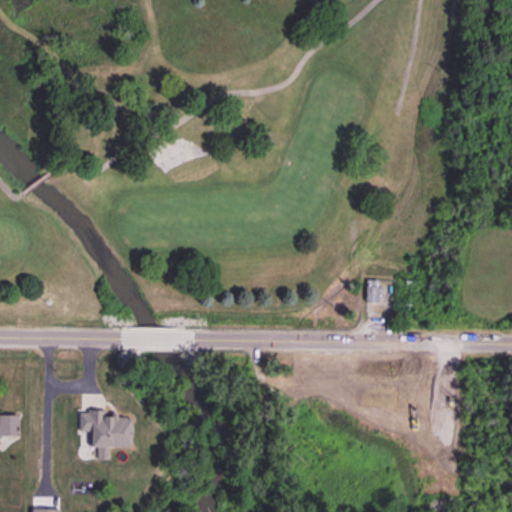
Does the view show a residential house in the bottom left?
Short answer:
Yes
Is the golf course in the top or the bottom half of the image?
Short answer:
top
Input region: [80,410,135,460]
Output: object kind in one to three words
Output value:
house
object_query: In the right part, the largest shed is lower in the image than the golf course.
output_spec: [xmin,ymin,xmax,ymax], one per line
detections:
[368,280,382,302]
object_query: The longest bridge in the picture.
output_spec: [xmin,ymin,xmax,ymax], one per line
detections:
[122,330,194,350]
